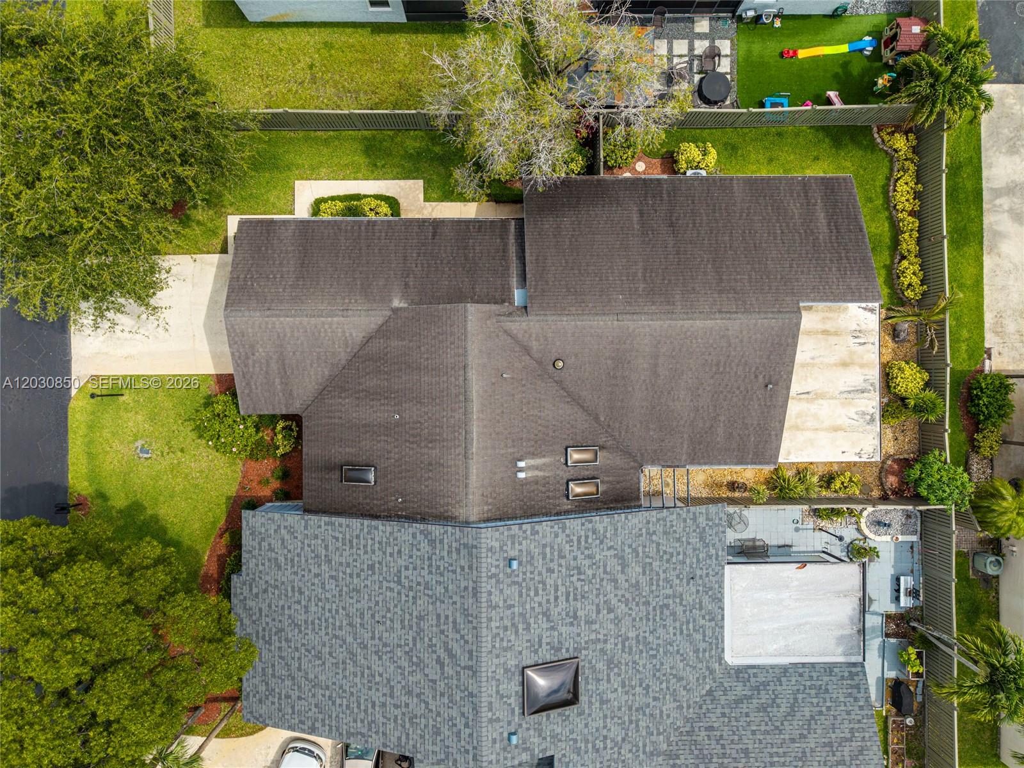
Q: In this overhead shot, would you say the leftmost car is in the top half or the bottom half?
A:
bottom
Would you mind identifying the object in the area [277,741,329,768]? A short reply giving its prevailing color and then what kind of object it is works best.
white car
